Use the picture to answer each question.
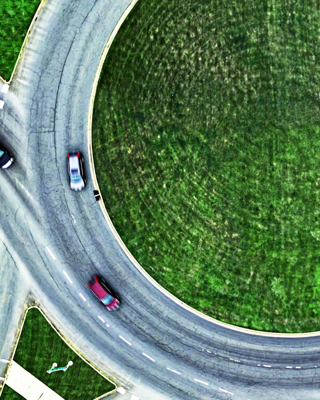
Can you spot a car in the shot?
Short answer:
Yes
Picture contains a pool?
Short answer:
No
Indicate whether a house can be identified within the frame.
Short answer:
No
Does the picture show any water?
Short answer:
No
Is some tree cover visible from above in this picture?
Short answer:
No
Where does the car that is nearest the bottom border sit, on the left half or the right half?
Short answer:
left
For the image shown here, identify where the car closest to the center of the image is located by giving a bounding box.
[66,151,86,190]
